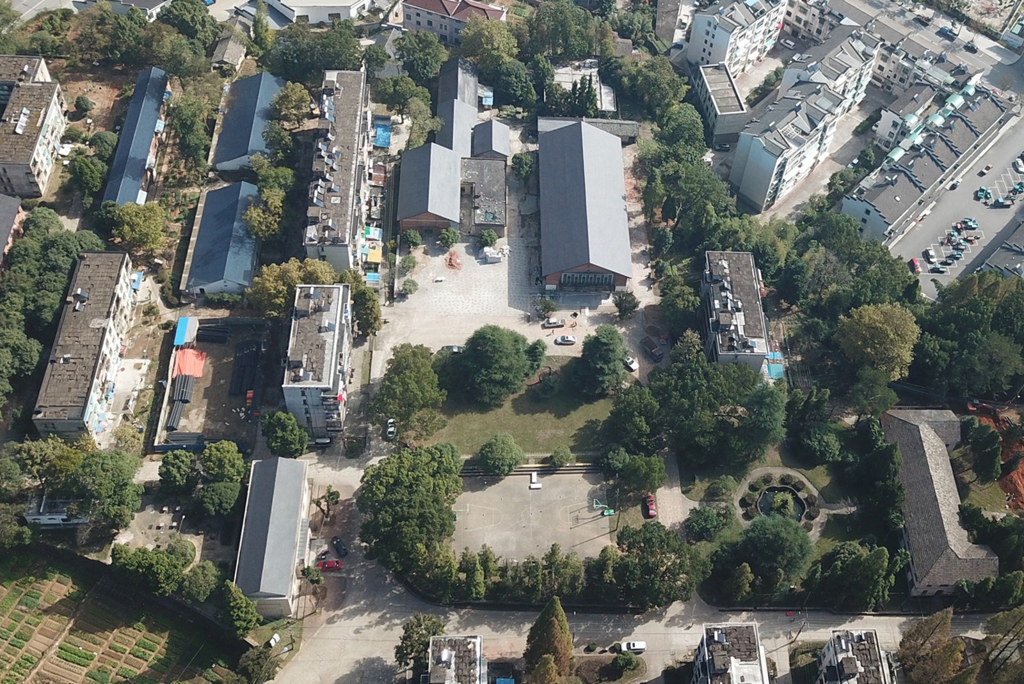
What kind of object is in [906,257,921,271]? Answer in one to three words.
car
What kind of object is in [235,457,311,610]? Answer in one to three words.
house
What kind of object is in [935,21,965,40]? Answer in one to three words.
vehicle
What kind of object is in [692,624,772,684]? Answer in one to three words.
building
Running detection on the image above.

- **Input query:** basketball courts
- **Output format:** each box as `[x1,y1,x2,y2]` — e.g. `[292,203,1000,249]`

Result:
[450,474,618,555]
